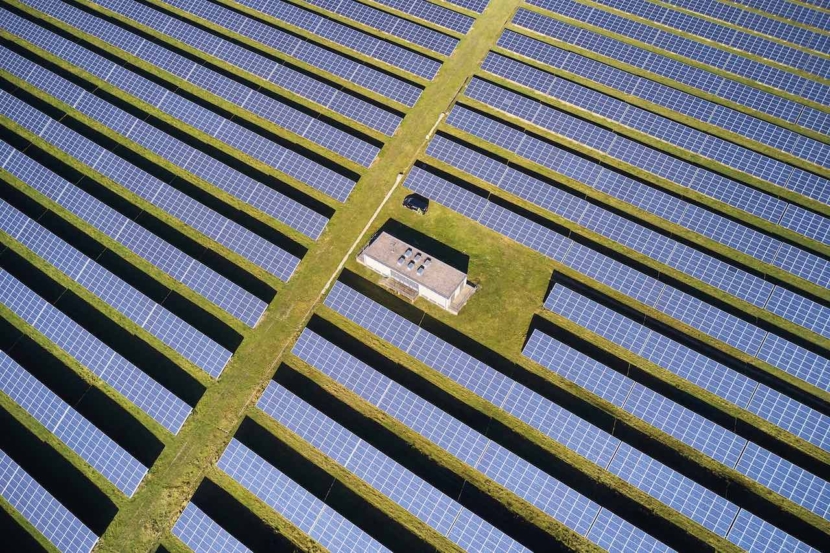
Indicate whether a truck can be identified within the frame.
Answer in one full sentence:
No, I find no truck anywhere in the image.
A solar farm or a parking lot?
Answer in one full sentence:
This looks like a solar farm.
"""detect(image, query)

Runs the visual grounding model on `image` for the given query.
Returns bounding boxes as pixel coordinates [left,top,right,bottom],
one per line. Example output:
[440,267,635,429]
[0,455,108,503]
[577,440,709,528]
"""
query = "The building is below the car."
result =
[364,231,467,307]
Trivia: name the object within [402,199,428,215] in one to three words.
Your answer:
car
